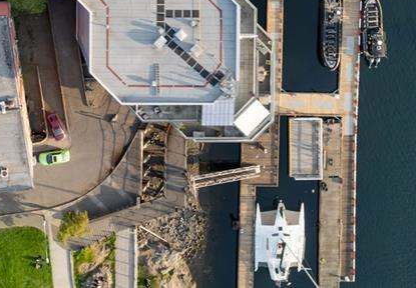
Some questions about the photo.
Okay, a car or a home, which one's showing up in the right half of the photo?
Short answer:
home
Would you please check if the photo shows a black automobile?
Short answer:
No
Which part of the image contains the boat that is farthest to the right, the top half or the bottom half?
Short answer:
top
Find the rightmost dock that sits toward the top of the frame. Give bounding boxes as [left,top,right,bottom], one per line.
[338,0,362,137]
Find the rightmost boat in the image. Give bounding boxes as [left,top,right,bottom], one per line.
[361,0,386,65]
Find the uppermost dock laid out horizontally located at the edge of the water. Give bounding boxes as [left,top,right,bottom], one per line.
[275,90,344,117]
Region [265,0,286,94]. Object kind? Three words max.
pier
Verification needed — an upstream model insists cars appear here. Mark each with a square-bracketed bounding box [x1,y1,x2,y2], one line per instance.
[37,147,71,164]
[47,110,66,141]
